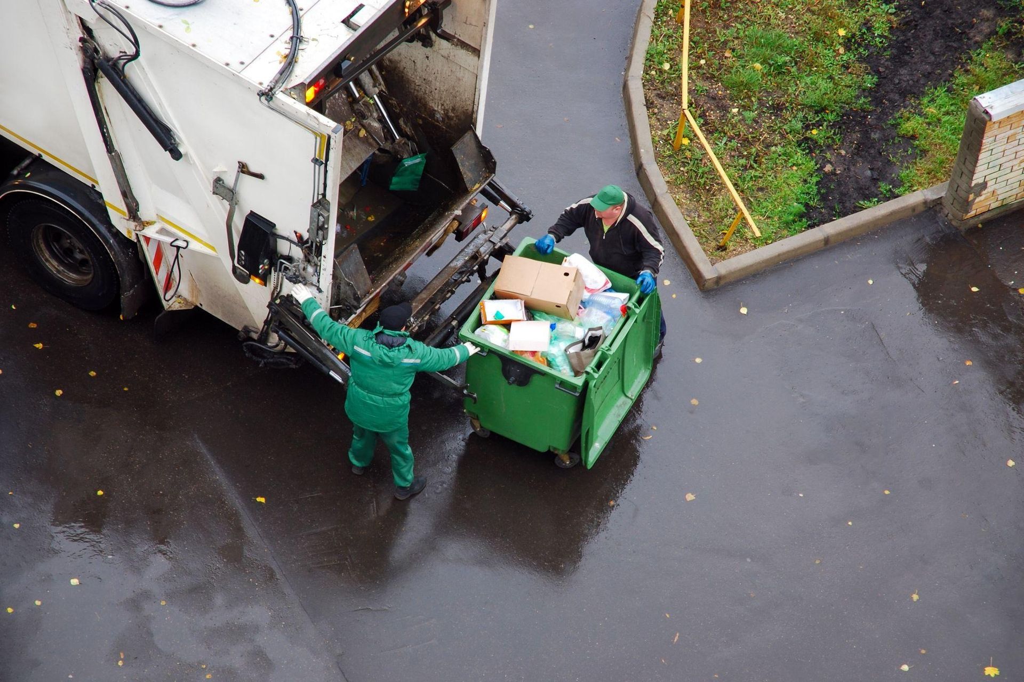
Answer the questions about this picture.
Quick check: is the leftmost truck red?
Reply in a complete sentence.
No, the color of the leftmost truck is white.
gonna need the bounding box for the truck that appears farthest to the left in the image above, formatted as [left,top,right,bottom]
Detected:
[0,0,537,406]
